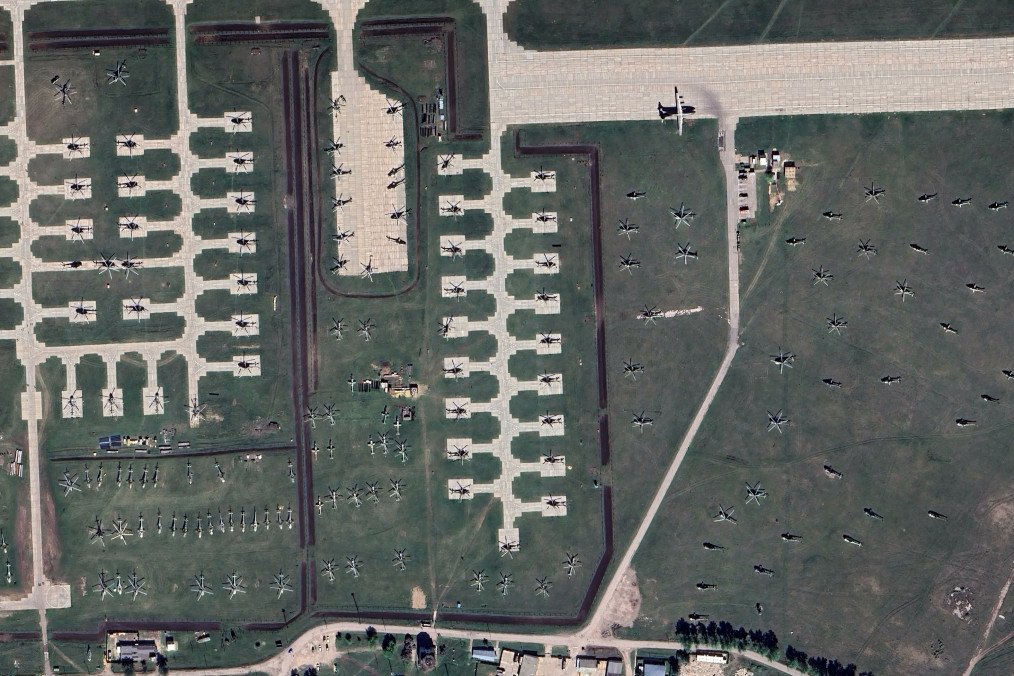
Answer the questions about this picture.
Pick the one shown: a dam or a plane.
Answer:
plane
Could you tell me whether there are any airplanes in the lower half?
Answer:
No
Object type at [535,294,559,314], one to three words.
helipad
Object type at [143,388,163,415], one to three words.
helipad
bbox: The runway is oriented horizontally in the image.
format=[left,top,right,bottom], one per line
[504,38,1014,126]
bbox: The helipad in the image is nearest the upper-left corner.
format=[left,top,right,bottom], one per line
[63,137,90,158]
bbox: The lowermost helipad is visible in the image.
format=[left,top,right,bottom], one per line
[46,585,70,608]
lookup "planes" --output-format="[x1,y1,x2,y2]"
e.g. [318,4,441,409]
[660,93,696,135]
